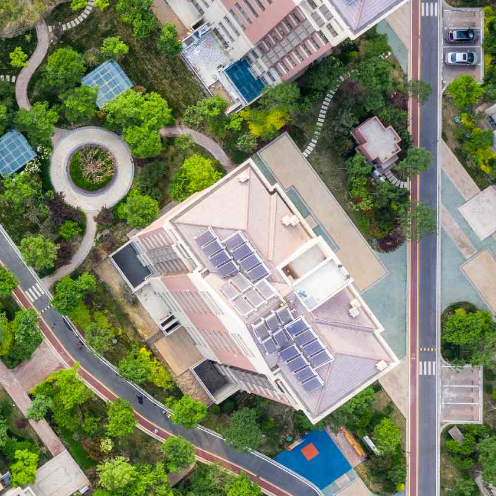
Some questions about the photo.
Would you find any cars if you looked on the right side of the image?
Yes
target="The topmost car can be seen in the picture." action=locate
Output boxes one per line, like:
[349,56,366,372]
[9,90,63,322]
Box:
[448,27,480,44]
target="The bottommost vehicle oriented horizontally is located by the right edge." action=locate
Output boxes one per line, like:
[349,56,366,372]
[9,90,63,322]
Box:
[446,50,482,66]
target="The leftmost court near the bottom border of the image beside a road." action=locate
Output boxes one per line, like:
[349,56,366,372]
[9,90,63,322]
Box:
[276,430,352,490]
